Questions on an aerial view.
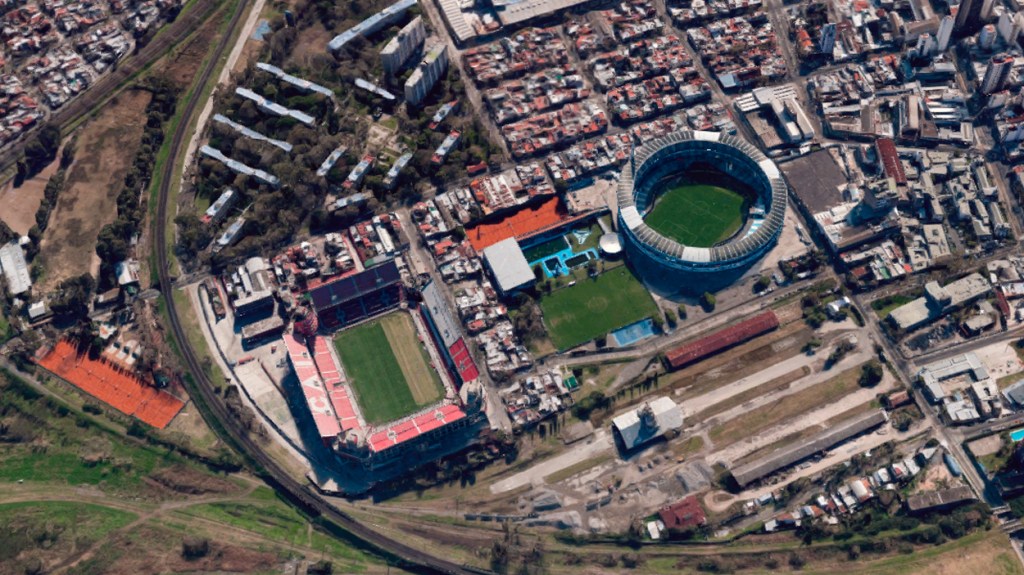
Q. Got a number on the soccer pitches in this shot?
3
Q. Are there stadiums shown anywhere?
Yes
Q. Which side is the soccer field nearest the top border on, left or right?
right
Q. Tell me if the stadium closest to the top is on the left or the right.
right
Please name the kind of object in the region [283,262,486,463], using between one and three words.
stadium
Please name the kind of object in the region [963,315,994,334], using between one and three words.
building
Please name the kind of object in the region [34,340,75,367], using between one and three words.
tennis court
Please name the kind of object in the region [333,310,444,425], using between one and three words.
soccer field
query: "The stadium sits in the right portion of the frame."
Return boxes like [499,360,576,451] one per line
[617,131,787,277]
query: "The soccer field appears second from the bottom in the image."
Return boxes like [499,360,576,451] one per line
[542,262,660,351]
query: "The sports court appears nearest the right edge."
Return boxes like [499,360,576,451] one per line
[612,318,655,346]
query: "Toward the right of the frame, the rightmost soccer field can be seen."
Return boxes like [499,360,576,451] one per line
[648,167,750,246]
